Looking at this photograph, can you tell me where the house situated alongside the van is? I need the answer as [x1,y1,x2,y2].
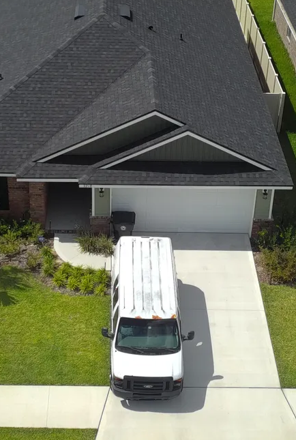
[0,0,296,235]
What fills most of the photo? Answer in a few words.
buildings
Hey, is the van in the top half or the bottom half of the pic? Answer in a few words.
bottom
